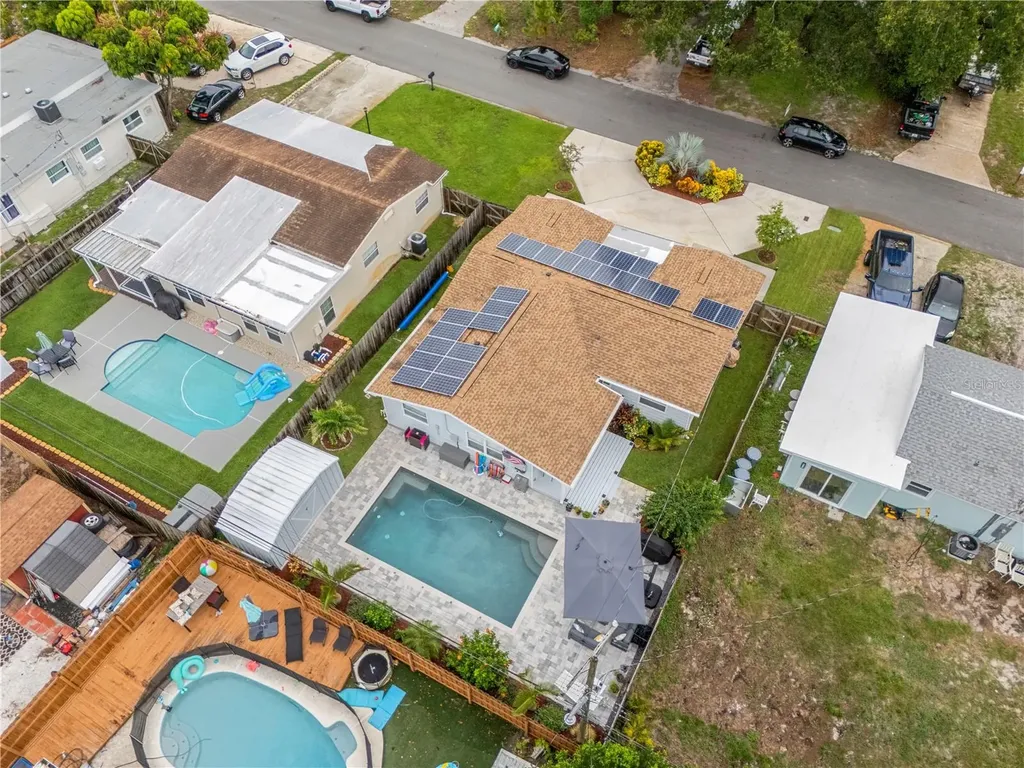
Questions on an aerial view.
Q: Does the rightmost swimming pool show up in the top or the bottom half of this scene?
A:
bottom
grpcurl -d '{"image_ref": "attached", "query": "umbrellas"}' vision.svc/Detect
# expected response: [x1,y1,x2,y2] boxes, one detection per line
[565,518,664,626]
[26,318,50,351]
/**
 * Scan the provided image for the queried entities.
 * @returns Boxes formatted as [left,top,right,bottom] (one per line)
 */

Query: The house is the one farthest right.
[776,289,1024,555]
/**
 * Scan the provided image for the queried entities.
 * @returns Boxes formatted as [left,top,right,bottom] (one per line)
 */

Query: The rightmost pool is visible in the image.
[335,459,565,638]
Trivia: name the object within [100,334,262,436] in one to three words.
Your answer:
swimming pool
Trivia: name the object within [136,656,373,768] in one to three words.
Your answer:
swimming pool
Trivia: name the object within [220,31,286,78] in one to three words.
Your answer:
car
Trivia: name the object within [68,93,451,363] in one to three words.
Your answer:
house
